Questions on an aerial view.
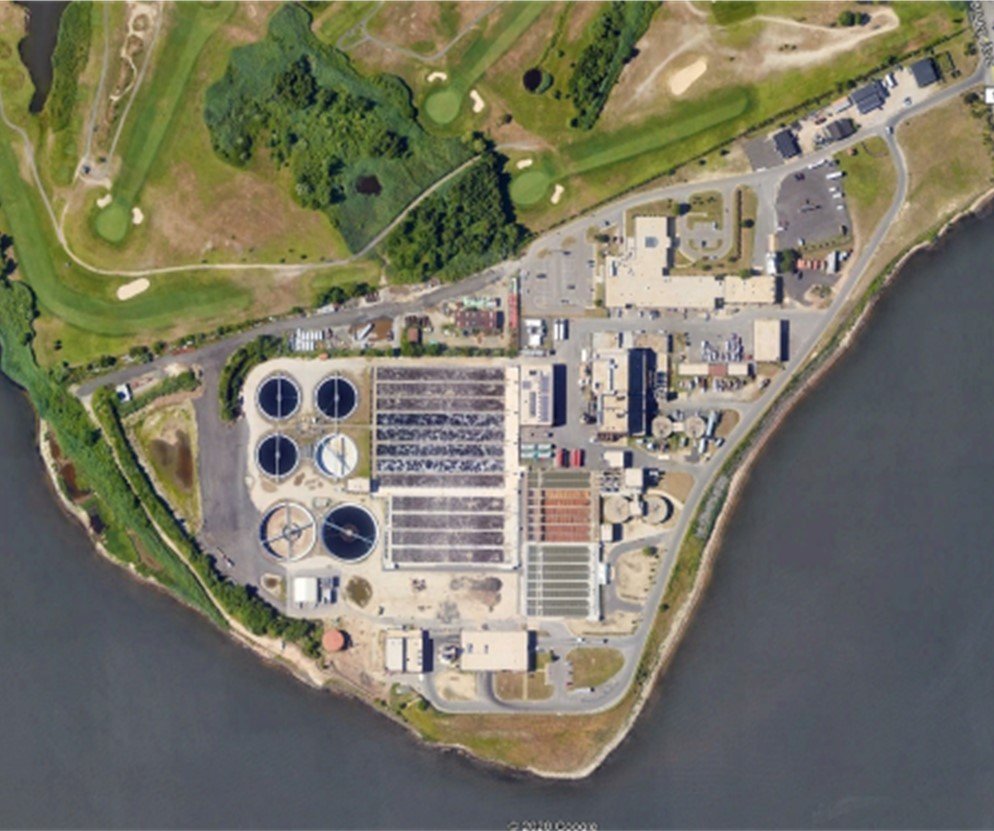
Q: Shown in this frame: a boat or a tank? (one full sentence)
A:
The one in the frame is a tank.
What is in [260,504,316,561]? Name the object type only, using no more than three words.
storage tank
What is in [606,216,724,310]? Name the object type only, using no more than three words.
building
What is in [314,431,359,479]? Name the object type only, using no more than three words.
storage tank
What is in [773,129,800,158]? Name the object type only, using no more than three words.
shed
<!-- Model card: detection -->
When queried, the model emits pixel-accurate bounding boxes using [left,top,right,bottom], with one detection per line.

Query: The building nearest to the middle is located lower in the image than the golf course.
[520,364,552,424]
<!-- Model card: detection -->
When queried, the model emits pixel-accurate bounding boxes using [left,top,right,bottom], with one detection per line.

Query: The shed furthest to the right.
[911,56,941,87]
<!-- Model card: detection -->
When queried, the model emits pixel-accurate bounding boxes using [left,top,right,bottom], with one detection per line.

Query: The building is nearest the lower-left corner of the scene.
[294,578,316,603]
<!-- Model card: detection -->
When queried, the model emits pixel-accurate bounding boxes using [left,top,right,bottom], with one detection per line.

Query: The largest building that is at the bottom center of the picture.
[461,631,527,672]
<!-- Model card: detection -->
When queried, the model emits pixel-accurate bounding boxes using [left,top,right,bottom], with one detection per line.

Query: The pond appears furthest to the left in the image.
[19,0,71,114]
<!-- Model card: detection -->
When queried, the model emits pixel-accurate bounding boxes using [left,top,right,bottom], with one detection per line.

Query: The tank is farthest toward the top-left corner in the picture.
[256,375,302,420]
